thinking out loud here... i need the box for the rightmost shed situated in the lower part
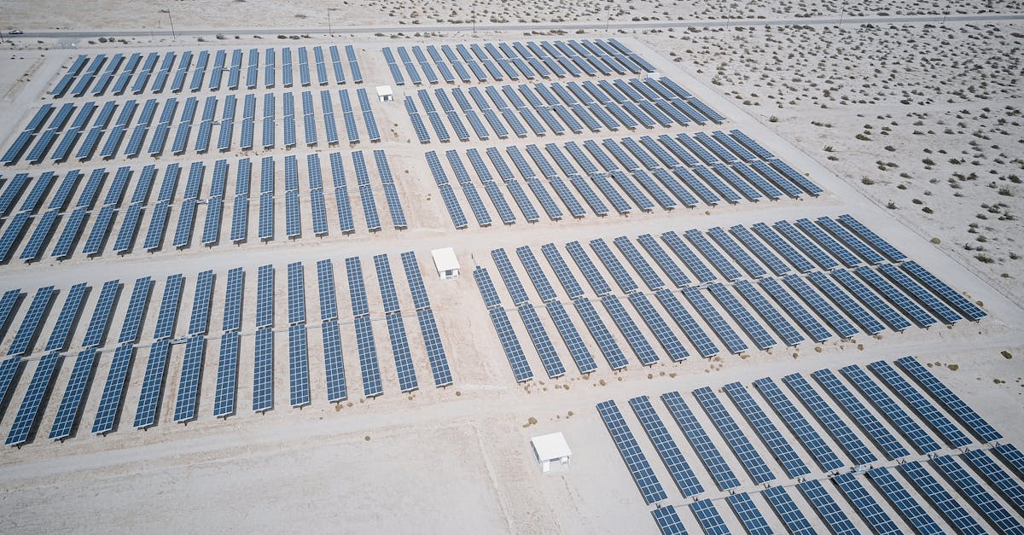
[530,433,571,472]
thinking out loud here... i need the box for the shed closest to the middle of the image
[431,248,461,281]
